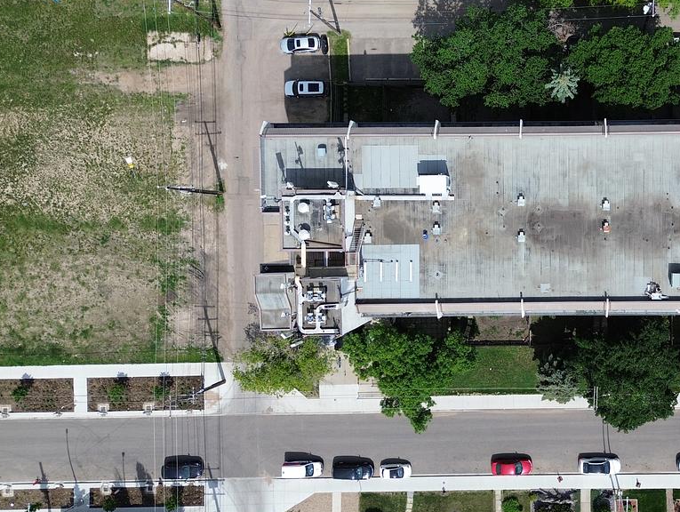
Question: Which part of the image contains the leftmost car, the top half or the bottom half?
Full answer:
Seen from above, the leftmost car lies in the bottom half of the view.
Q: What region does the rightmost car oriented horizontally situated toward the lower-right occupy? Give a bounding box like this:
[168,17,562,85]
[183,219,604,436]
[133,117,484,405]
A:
[579,458,620,478]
